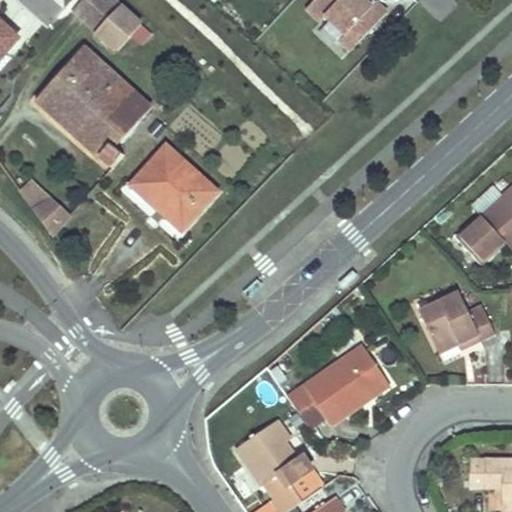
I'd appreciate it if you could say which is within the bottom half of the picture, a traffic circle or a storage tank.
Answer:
traffic circle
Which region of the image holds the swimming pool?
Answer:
bottom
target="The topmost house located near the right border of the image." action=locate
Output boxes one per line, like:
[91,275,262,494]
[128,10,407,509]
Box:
[458,184,512,264]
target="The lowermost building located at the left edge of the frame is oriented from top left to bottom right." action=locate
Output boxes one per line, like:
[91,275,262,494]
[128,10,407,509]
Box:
[19,178,72,238]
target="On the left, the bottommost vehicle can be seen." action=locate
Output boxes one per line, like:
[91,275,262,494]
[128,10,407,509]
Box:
[126,228,140,244]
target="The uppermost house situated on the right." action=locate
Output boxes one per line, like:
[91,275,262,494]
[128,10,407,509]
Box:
[304,0,389,62]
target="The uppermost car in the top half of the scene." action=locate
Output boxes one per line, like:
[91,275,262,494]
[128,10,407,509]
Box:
[150,119,165,136]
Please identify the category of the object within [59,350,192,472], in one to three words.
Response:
roundabout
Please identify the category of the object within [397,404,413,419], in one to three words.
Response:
car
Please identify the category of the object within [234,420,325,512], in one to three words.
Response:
house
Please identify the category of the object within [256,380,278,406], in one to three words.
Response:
swimming pool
